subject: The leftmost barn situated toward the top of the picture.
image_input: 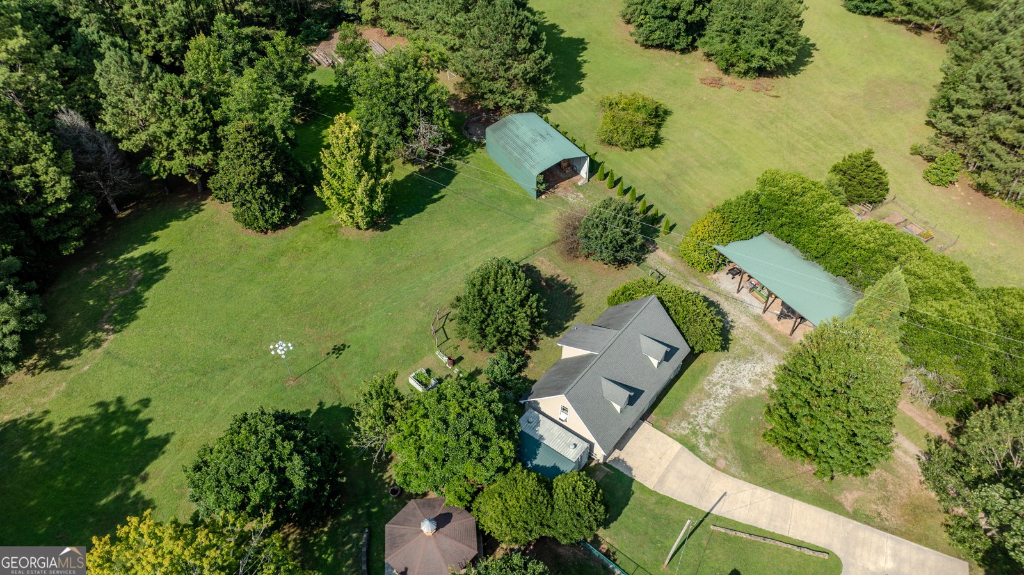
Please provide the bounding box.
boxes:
[488,116,589,201]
